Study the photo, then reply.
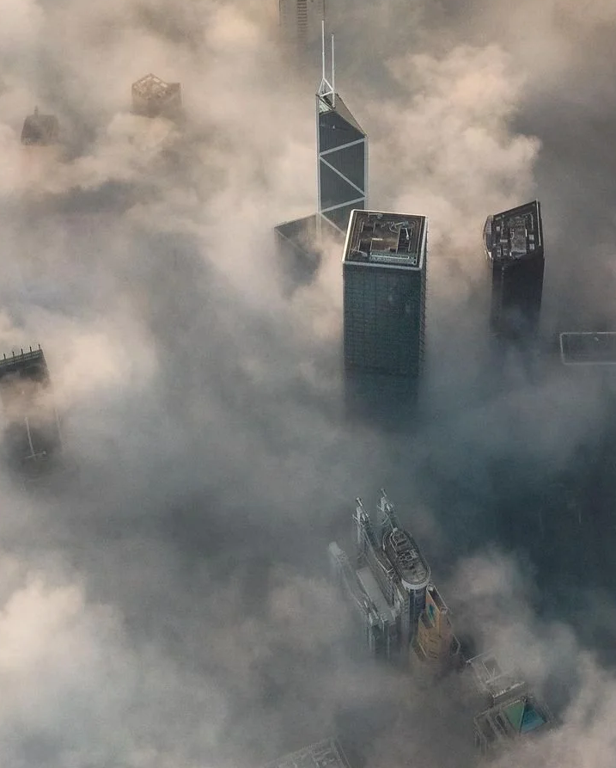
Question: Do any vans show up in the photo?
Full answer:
No, the picture doesn't show any van.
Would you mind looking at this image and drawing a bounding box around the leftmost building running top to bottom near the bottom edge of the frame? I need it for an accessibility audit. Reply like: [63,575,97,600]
[330,488,400,767]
